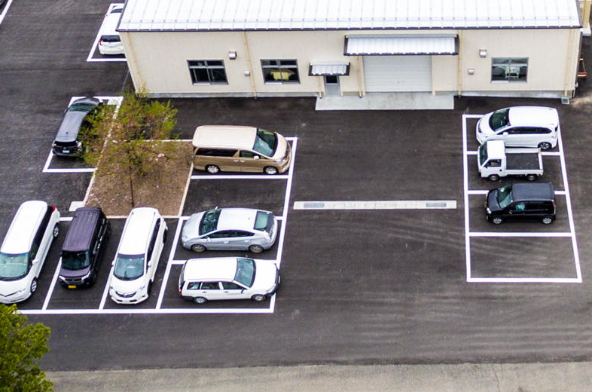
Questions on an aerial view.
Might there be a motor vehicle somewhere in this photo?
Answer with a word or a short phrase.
Yes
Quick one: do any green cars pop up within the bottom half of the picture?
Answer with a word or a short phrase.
No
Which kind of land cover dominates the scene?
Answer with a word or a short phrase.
paved ground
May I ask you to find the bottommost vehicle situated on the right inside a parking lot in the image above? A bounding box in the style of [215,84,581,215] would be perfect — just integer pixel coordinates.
[484,180,559,225]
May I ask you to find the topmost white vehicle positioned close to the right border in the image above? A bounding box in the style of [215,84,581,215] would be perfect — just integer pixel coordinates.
[474,106,568,151]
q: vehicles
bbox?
[173,254,285,304]
[94,0,126,52]
[49,86,102,151]
[188,125,294,175]
[178,205,281,253]
[0,195,59,298]
[474,106,568,151]
[484,180,559,225]
[475,138,546,181]
[53,204,109,284]
[108,200,168,298]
